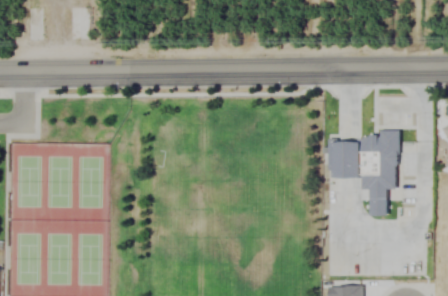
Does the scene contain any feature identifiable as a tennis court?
Yes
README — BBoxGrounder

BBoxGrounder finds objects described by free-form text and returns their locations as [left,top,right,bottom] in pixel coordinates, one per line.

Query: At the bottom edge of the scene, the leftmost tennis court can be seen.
[15,234,42,286]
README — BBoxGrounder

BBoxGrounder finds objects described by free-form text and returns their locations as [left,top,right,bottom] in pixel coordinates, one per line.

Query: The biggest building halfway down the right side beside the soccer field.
[329,131,401,217]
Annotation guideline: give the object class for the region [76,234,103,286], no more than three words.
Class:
tennis court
